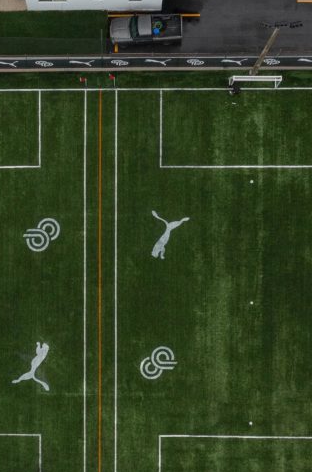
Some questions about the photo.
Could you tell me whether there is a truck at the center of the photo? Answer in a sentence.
No, the scene shows no truck at the center of the photo.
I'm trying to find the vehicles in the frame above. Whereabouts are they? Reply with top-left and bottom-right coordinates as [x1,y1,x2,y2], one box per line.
[110,12,185,51]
